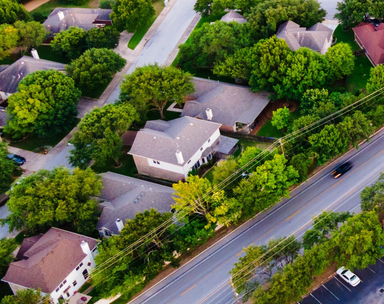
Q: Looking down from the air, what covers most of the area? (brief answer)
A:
trees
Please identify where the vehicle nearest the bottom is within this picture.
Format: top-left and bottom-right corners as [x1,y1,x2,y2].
[337,268,360,286]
